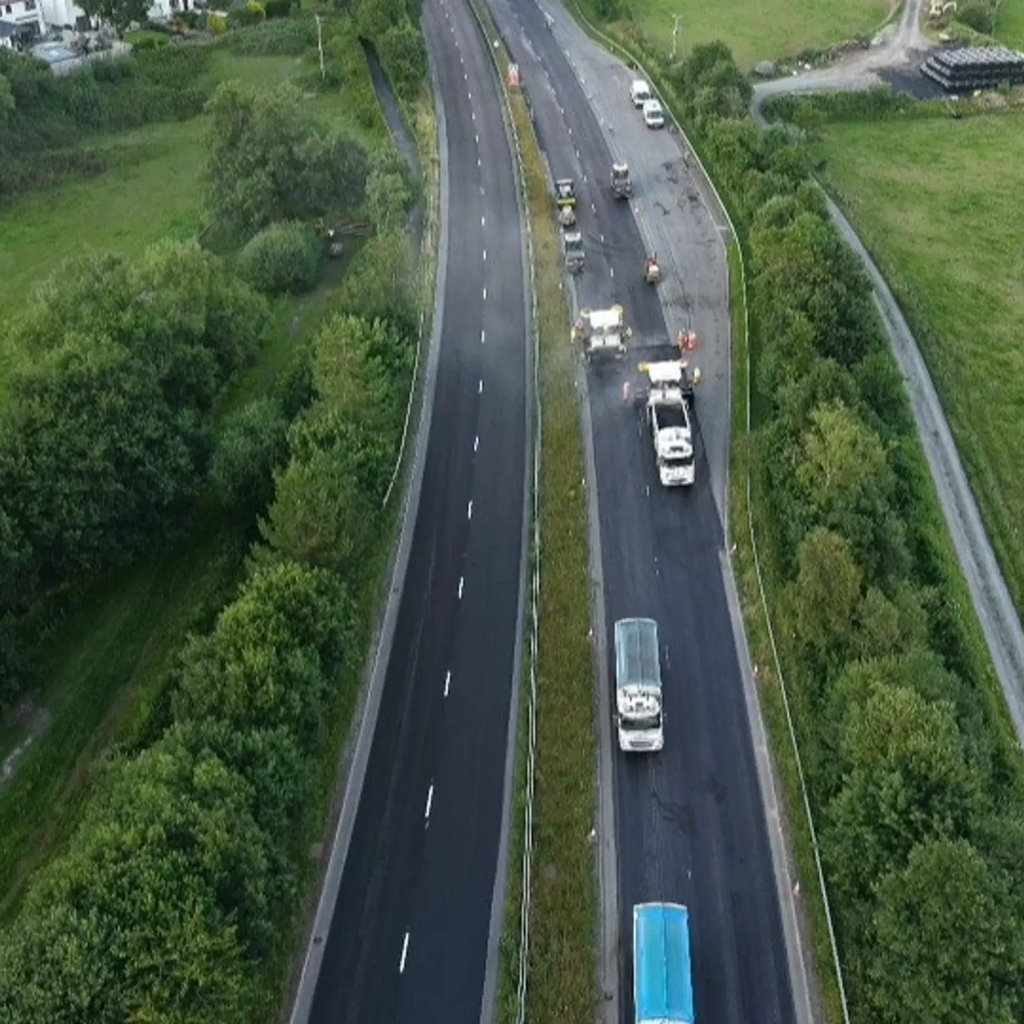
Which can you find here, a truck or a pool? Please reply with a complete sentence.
I can see a truck in this picture.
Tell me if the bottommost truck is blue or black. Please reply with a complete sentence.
In this view, the bottommost truck is blue.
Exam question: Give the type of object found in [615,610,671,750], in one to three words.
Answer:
truck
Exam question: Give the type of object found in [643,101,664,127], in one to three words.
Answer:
vehicle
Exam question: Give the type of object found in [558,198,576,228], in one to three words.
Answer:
work vehicle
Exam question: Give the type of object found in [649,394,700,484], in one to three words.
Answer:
truck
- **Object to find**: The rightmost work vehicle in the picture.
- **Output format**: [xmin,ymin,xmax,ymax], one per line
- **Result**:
[925,0,959,22]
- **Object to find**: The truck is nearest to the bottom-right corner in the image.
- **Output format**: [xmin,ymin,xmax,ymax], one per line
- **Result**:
[632,905,695,1024]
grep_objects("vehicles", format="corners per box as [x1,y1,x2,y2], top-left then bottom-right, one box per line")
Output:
[615,610,671,750]
[632,905,695,1024]
[925,0,959,22]
[562,233,584,274]
[649,394,700,484]
[609,165,629,198]
[556,179,573,208]
[630,83,650,108]
[641,252,663,282]
[643,101,664,127]
[558,198,576,228]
